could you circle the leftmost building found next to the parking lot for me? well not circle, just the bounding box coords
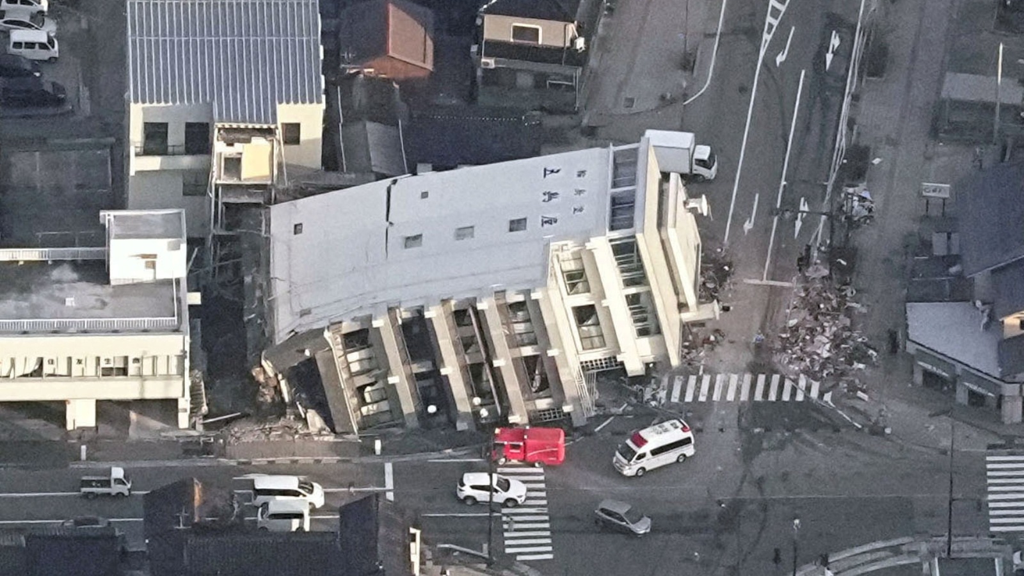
[0,200,200,428]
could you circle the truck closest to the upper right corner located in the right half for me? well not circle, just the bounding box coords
[641,126,715,181]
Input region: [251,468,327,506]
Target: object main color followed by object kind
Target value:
white vehicle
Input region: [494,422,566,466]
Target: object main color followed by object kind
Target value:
red truck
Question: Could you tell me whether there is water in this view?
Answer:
No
